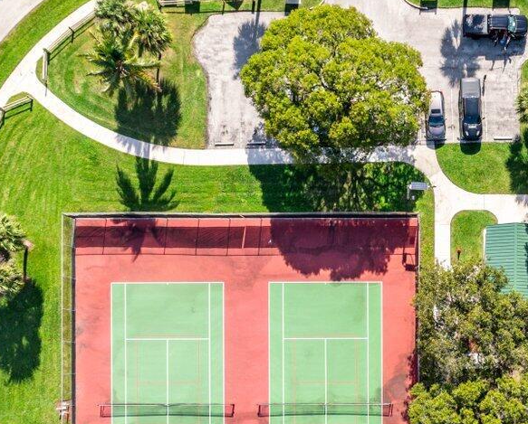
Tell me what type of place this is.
sports ground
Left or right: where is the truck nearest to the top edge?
right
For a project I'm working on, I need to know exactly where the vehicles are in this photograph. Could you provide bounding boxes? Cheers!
[424,87,448,139]
[465,9,528,44]
[459,77,484,140]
